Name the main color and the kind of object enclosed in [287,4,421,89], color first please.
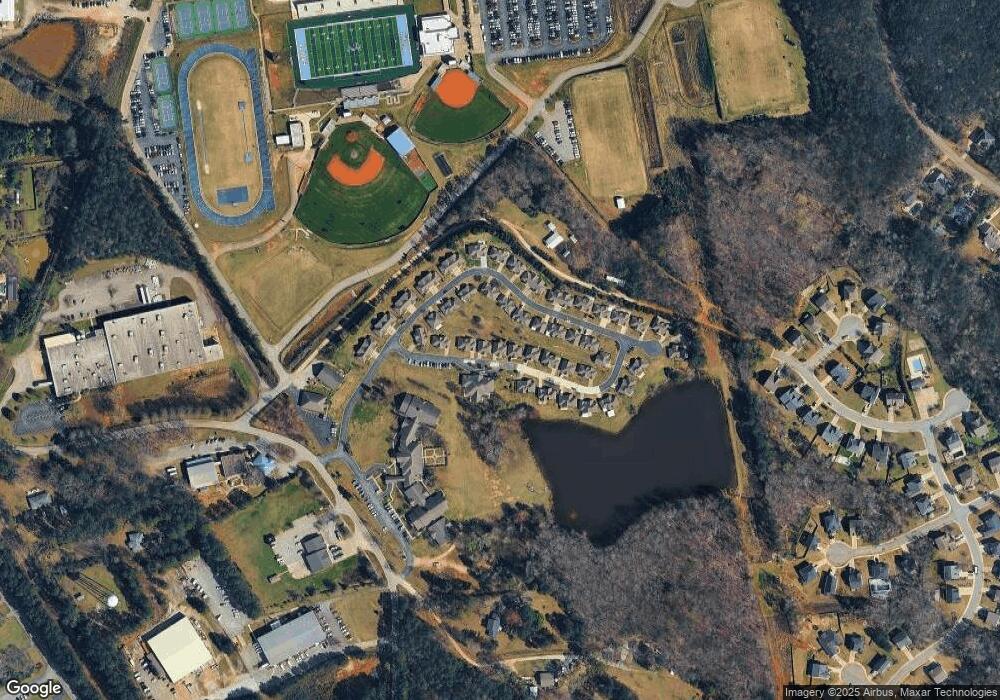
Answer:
green sports field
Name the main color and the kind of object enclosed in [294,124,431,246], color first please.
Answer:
green baseball field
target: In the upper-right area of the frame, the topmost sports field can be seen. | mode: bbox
[708,0,806,120]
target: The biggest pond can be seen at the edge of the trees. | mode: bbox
[8,21,79,78]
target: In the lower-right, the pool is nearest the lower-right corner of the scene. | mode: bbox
[869,578,891,596]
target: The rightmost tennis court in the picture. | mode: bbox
[173,0,251,40]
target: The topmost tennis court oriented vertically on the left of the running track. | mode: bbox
[153,57,172,96]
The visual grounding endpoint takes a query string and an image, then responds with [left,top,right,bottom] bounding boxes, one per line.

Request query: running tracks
[179,44,276,226]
